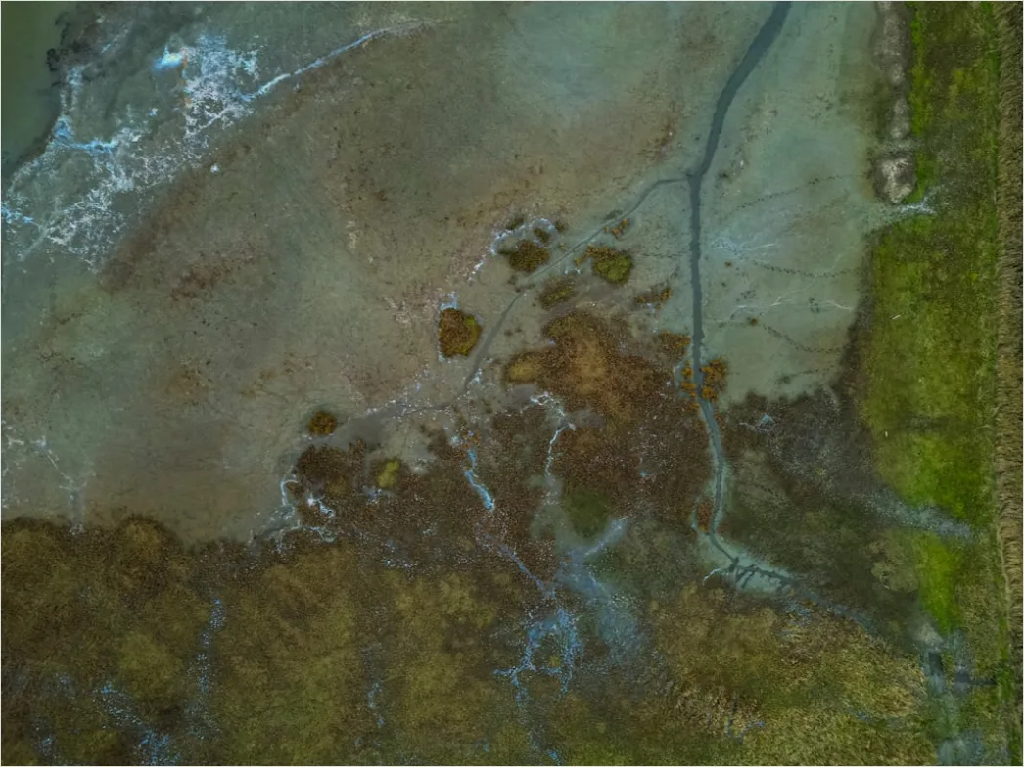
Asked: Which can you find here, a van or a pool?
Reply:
pool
